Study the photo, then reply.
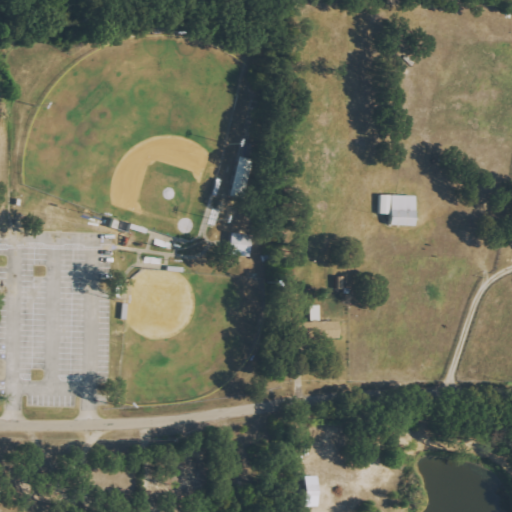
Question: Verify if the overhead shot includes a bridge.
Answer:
No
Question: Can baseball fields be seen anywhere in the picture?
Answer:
Yes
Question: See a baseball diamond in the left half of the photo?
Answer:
Yes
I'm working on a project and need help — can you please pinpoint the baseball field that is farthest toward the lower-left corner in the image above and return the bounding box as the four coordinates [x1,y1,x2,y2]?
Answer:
[118,268,262,407]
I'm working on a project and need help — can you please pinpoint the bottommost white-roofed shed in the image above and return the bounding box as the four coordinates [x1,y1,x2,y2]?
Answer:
[304,476,320,508]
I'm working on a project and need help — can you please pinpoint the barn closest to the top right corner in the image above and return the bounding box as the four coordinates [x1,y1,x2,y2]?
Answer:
[377,194,418,226]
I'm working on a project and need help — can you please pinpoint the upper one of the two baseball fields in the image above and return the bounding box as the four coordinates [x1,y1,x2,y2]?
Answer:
[22,34,244,241]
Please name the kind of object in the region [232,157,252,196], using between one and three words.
building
